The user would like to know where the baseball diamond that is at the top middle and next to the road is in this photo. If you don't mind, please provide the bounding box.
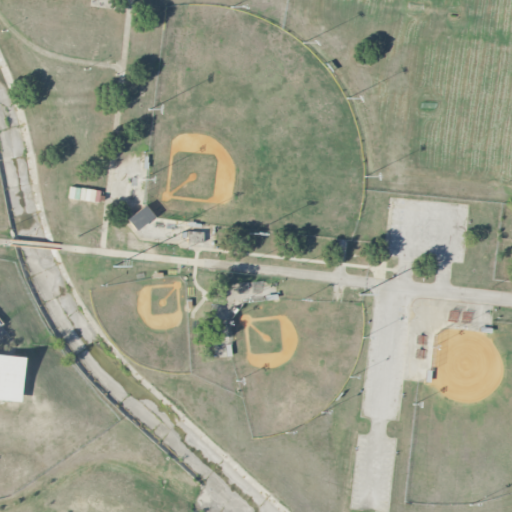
[152,4,366,237]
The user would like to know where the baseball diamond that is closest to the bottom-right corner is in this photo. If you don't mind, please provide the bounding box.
[407,329,512,504]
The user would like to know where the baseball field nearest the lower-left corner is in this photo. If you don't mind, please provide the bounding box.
[90,276,190,374]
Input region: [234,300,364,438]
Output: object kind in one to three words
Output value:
baseball field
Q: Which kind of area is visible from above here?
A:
sports ground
